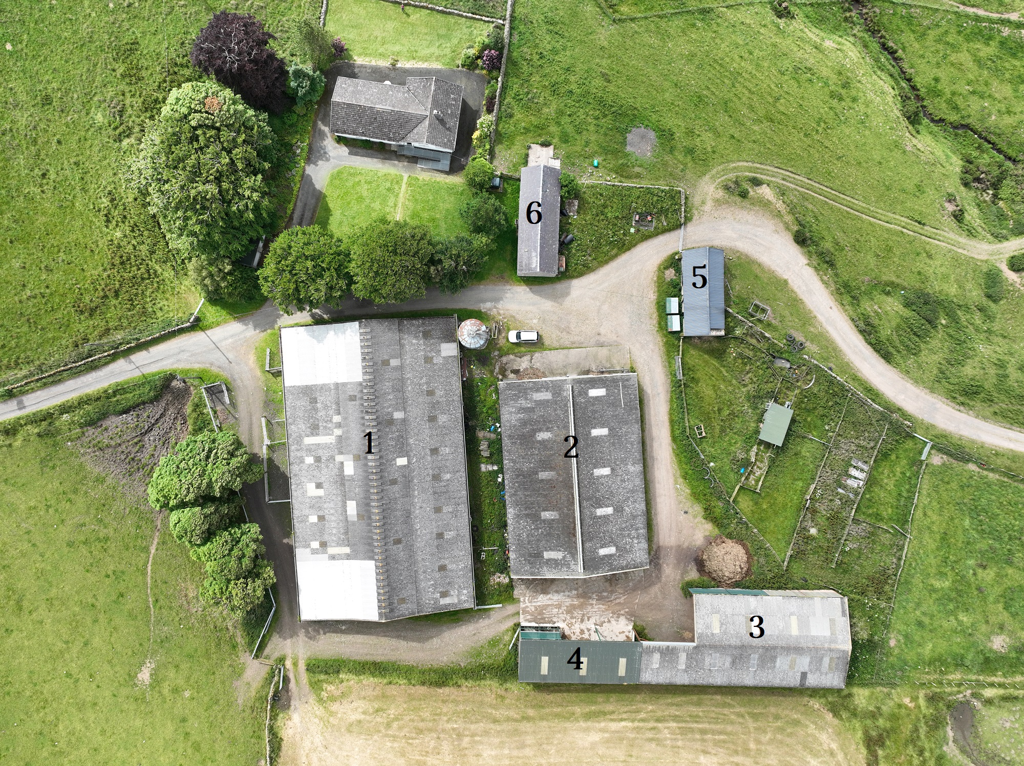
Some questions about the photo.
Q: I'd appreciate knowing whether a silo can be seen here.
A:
Yes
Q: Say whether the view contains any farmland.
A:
Yes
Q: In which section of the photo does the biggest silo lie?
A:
center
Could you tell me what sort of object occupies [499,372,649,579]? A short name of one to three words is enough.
barn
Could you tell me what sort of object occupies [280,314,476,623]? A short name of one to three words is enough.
barn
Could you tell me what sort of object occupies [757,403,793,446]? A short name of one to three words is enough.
shed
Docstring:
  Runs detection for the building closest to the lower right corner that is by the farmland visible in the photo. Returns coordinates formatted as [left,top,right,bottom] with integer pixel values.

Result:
[635,589,853,690]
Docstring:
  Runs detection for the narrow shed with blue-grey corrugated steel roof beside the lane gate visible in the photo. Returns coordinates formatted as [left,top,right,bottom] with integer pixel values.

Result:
[679,247,724,336]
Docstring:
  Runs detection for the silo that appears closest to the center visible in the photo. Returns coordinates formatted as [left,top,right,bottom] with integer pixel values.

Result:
[458,319,493,350]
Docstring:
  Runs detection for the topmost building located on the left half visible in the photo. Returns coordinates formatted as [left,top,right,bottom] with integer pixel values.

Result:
[330,76,463,172]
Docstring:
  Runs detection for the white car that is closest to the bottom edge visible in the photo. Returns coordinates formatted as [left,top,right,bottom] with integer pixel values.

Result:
[509,330,538,343]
